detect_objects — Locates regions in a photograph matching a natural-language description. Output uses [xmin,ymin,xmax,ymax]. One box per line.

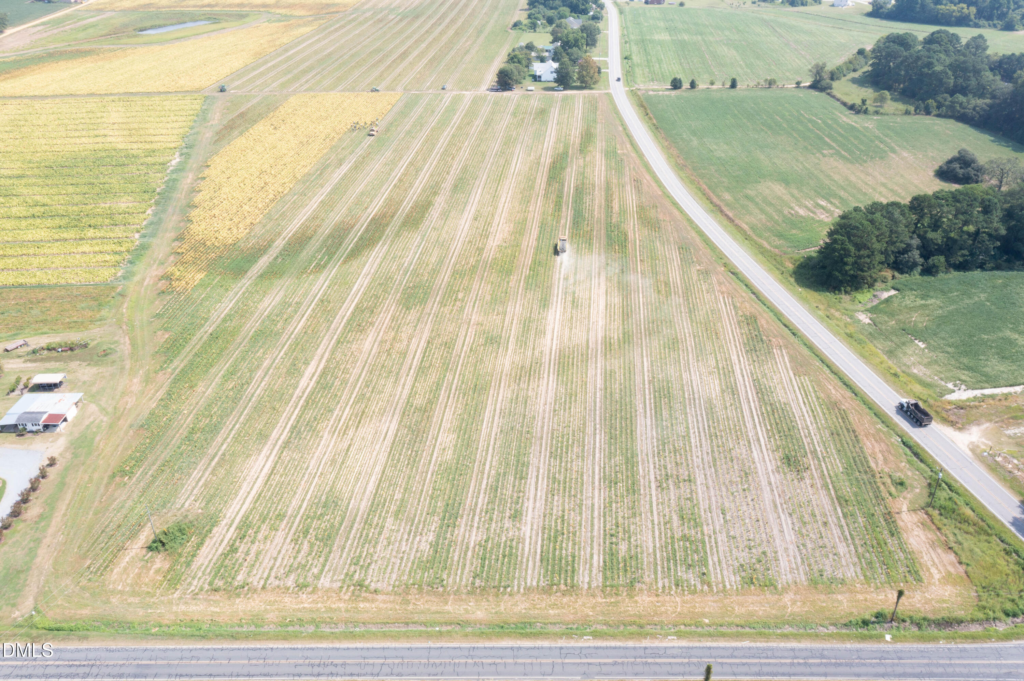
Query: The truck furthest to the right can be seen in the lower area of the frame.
[898,400,934,427]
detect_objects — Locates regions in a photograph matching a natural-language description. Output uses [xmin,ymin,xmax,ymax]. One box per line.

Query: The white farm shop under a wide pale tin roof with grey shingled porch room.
[0,394,85,433]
